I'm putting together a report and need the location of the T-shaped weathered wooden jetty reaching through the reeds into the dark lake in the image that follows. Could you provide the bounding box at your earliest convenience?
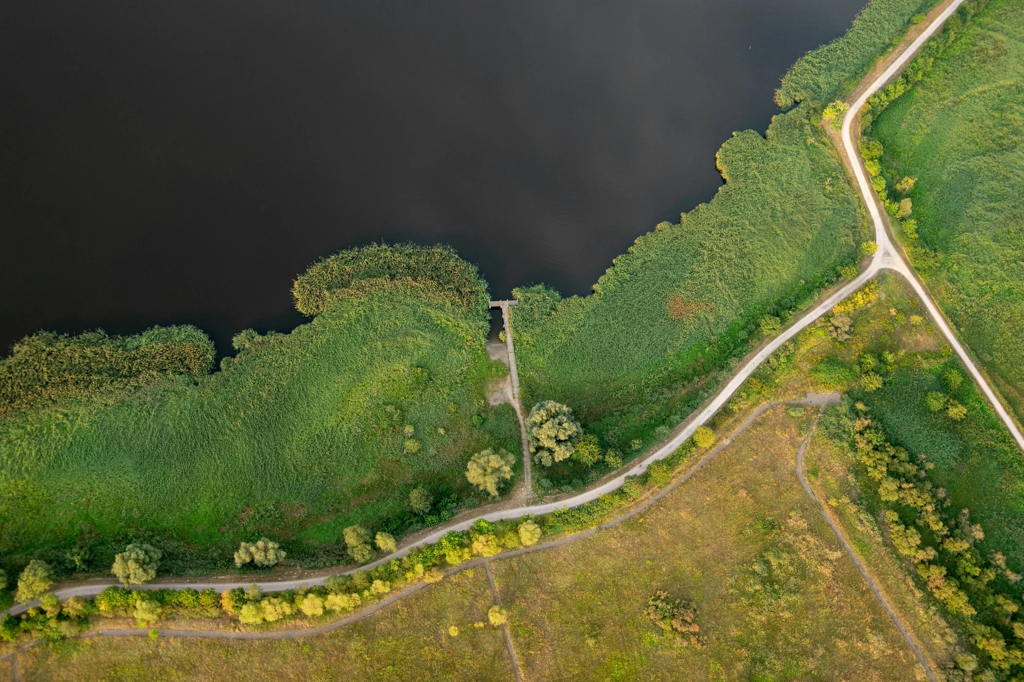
[489,299,519,399]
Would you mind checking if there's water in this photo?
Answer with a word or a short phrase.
Yes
